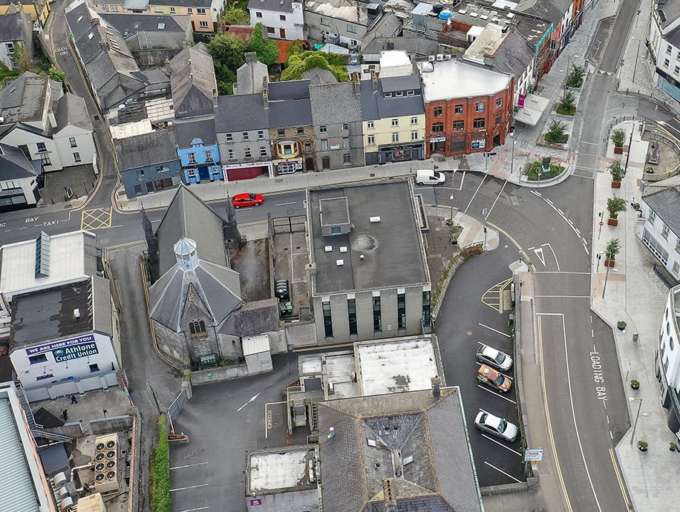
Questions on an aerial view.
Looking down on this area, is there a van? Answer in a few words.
Yes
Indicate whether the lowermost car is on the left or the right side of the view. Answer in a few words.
right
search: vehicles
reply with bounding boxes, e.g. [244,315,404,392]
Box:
[472,408,520,441]
[415,167,446,185]
[473,341,515,372]
[473,359,514,391]
[231,190,263,208]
